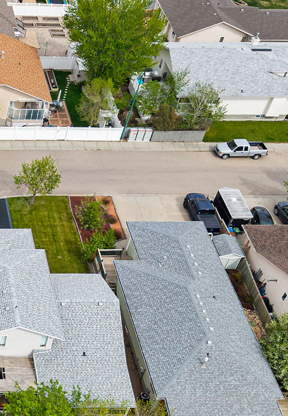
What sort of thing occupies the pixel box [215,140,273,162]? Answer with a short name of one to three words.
truck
